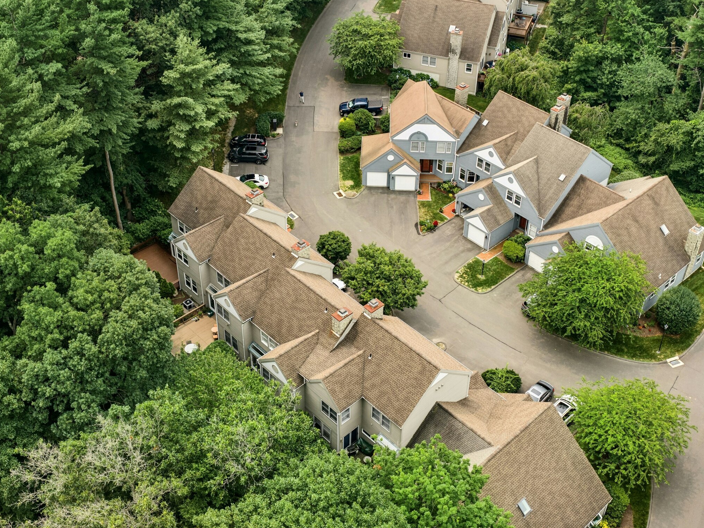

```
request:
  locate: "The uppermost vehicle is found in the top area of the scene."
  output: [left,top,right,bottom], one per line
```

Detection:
[339,97,383,115]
